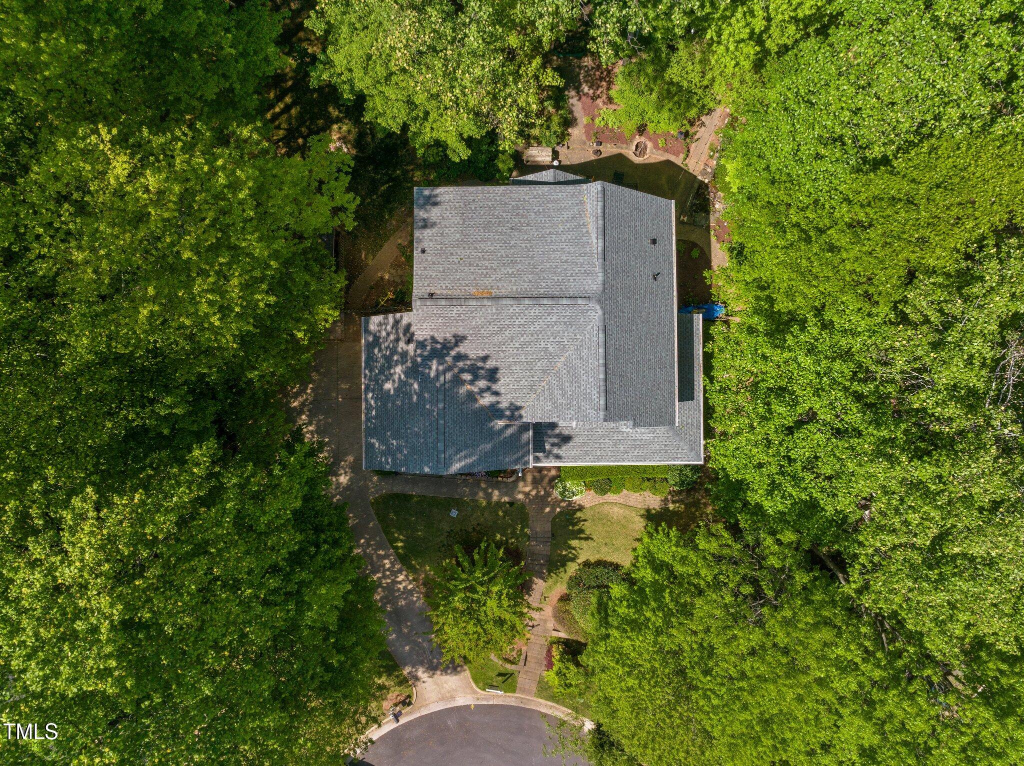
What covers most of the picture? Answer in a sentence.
Most of the picture is covered by trees.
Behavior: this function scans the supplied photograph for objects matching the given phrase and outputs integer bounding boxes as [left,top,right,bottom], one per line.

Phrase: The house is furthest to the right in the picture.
[359,169,706,476]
